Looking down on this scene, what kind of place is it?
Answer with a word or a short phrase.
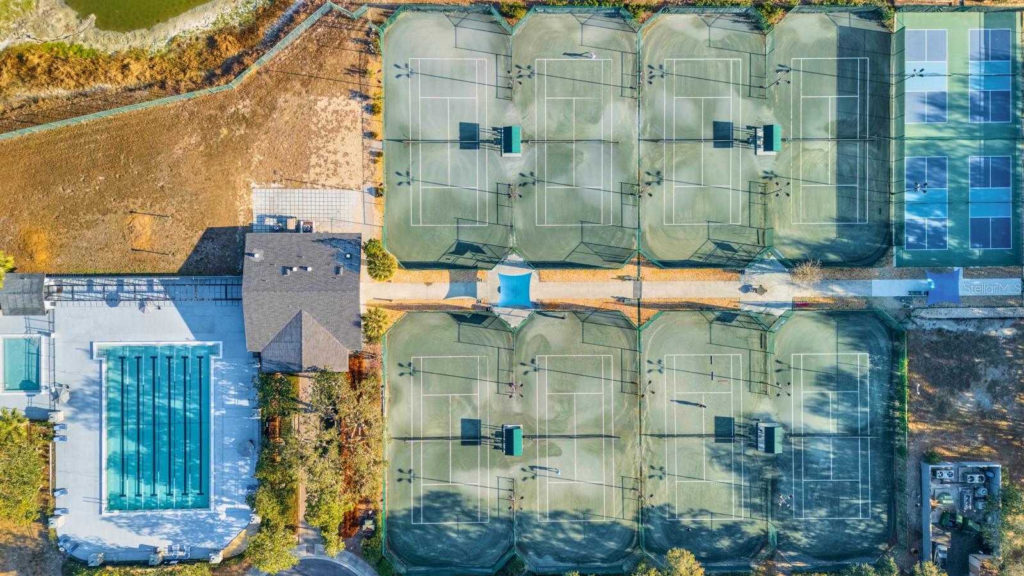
sports ground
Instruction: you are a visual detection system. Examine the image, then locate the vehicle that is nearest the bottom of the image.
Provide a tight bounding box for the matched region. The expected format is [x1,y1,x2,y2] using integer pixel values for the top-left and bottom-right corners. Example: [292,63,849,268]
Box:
[933,533,949,562]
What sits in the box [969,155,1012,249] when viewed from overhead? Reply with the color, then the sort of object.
blue sports court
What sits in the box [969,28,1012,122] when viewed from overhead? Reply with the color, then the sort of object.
blue sports court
